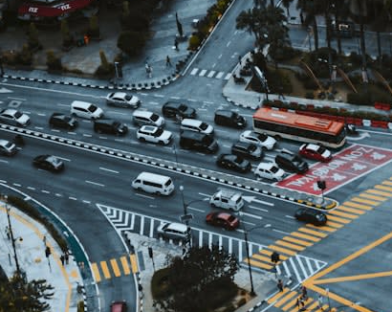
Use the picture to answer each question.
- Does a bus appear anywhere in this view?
Yes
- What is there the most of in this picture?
paved ground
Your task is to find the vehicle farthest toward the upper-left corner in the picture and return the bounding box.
[0,109,31,127]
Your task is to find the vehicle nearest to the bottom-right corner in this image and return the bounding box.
[292,209,328,228]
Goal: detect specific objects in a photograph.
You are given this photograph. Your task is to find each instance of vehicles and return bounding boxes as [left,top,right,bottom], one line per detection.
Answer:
[109,304,127,312]
[227,140,267,162]
[292,209,328,228]
[252,162,287,182]
[0,140,20,157]
[128,107,167,128]
[271,149,311,174]
[209,187,243,210]
[67,98,105,119]
[178,130,218,153]
[134,125,172,145]
[202,212,243,231]
[90,114,129,137]
[0,109,31,127]
[159,101,197,119]
[252,108,351,149]
[131,169,174,194]
[209,104,250,129]
[177,114,216,137]
[239,132,277,150]
[214,155,253,174]
[44,111,82,131]
[295,145,335,163]
[104,92,141,109]
[30,156,67,174]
